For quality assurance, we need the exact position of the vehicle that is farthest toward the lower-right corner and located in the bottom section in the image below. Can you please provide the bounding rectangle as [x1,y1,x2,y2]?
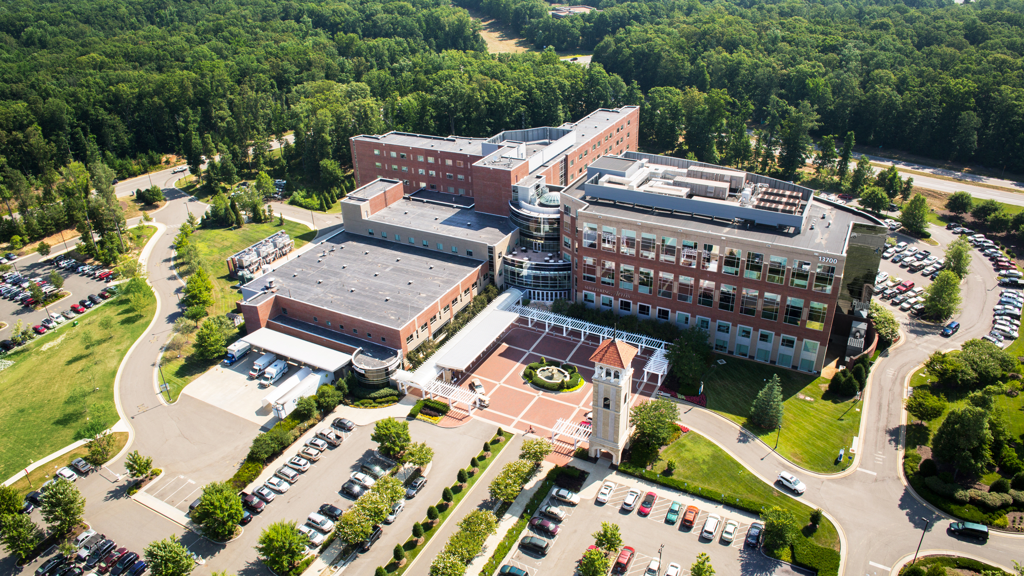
[948,519,990,543]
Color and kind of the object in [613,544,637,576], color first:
red car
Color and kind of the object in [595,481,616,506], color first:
white car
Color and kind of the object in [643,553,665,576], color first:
white car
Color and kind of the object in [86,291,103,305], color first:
gray car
